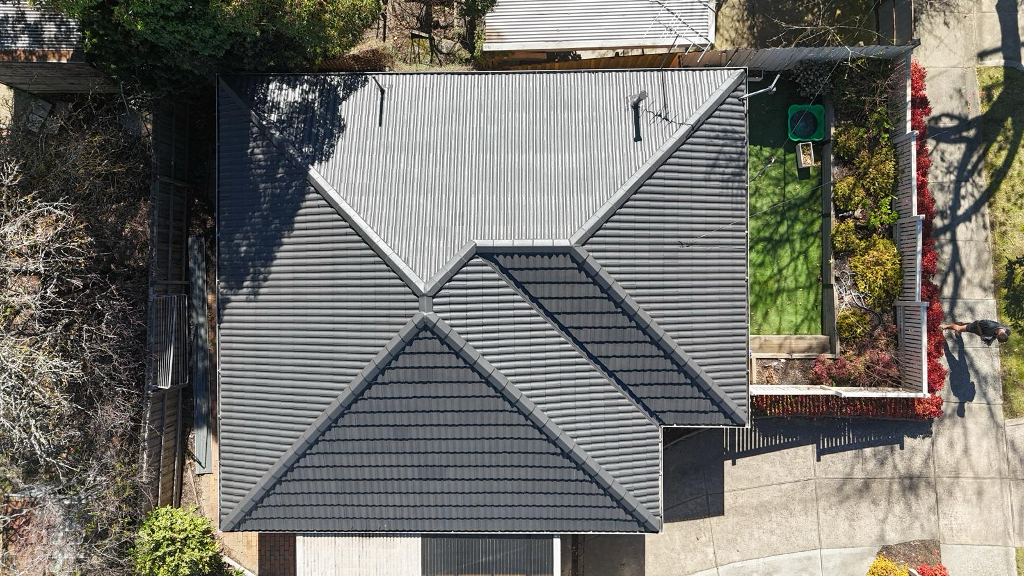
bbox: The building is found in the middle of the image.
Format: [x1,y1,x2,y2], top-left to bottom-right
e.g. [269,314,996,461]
[216,64,753,536]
